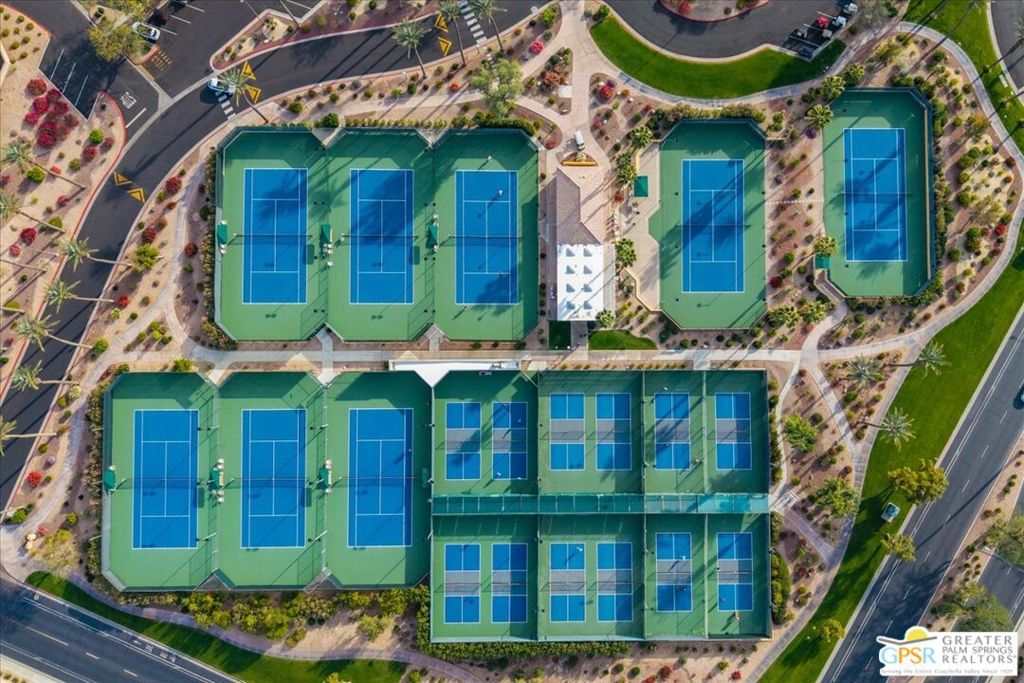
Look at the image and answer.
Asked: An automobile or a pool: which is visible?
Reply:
automobile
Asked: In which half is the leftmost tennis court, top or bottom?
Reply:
bottom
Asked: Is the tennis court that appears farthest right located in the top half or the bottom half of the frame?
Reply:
top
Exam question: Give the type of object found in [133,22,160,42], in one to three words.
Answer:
car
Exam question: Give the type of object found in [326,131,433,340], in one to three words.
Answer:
tennis court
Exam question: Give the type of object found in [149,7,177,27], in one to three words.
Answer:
car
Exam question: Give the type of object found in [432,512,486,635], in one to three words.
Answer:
sports court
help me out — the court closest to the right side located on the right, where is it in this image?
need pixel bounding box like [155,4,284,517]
[822,92,927,296]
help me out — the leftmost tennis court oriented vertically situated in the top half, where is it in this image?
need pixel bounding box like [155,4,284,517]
[222,131,325,340]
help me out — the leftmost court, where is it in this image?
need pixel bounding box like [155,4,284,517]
[111,374,216,586]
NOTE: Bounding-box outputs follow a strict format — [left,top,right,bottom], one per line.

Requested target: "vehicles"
[797,44,816,59]
[133,22,160,42]
[843,1,862,17]
[793,24,812,39]
[818,26,837,41]
[149,7,177,27]
[831,14,850,29]
[814,14,832,30]
[573,134,584,151]
[208,78,235,98]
